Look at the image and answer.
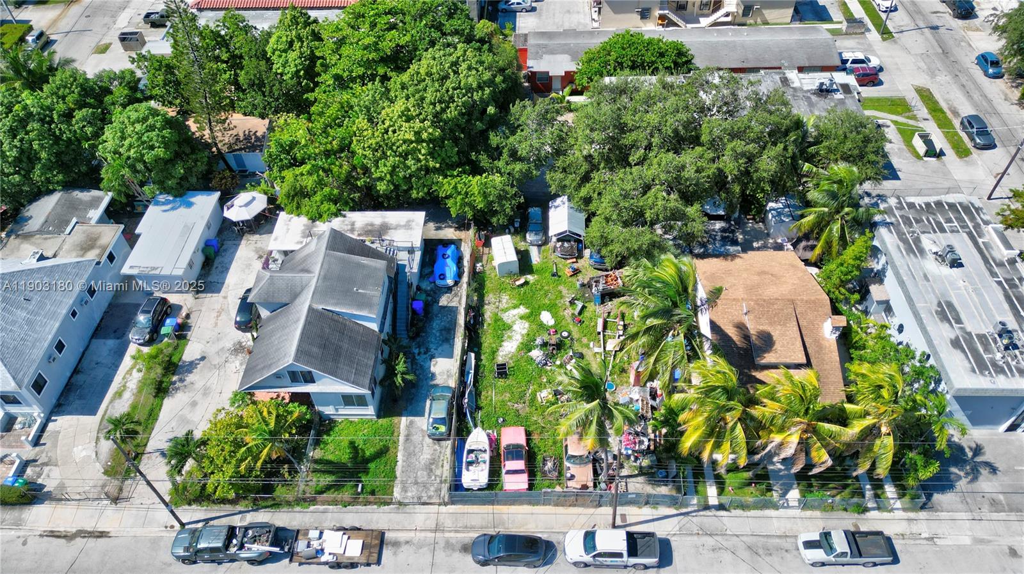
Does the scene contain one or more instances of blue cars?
Yes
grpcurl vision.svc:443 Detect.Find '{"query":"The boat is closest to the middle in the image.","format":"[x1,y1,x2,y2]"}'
[460,354,475,416]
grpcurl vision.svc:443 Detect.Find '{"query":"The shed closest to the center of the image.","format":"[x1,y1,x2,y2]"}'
[497,234,517,276]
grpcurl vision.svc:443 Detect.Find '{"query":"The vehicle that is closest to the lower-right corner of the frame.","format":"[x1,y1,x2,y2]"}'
[793,522,899,567]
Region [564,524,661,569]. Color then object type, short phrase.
white truck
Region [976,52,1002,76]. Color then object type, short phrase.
blue car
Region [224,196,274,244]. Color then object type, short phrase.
white gazebo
